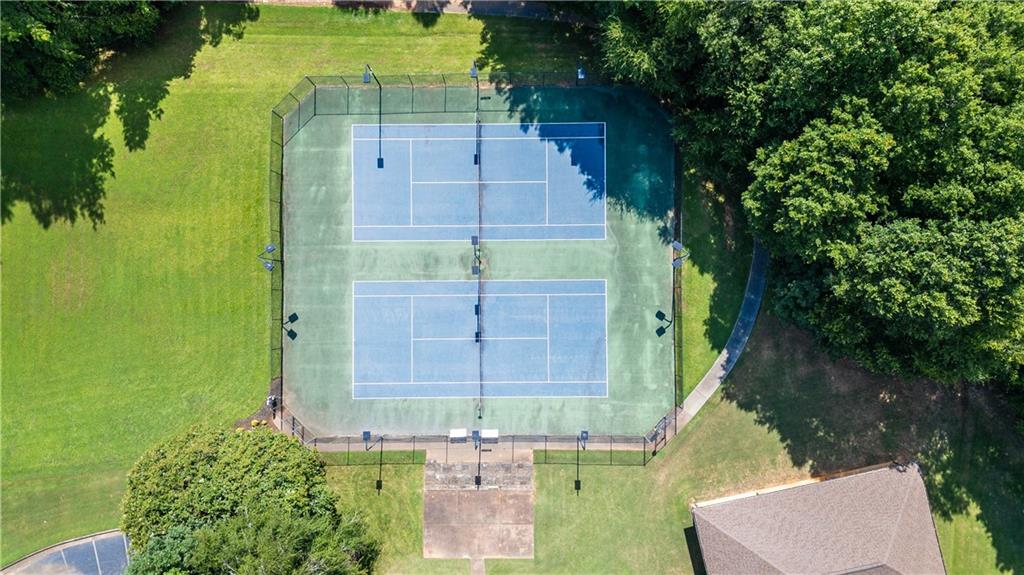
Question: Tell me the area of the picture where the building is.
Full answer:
Look in the bottom right portion of the view to spot the building.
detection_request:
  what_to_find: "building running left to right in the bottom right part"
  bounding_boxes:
[691,460,942,575]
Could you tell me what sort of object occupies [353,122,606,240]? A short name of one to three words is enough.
tennis court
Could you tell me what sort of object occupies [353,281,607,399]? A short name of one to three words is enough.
tennis court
